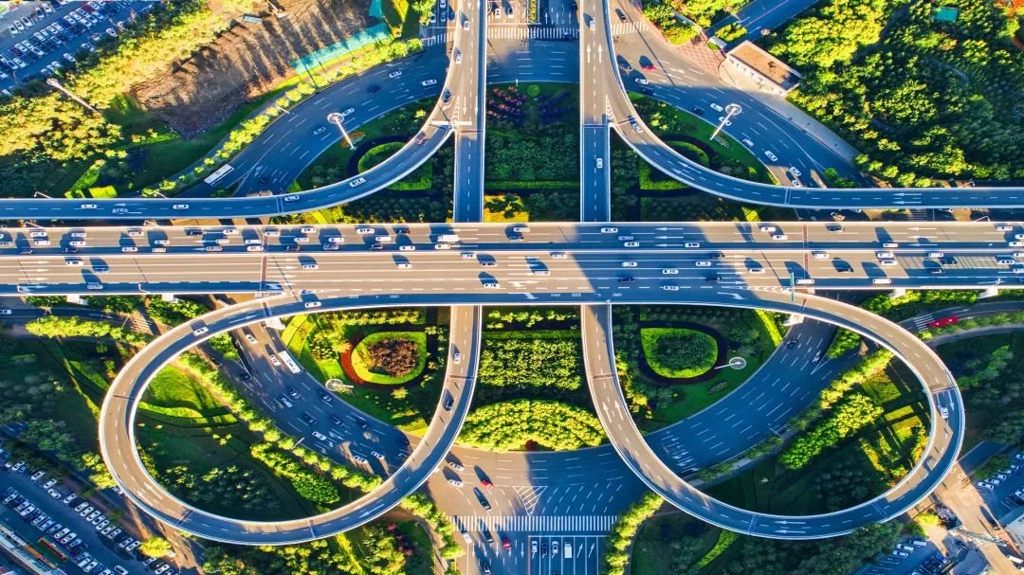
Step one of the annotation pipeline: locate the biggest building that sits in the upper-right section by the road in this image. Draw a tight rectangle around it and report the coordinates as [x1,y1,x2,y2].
[722,39,803,101]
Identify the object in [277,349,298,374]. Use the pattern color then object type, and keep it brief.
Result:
white bus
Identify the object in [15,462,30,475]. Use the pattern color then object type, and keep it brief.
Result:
blue vehicle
